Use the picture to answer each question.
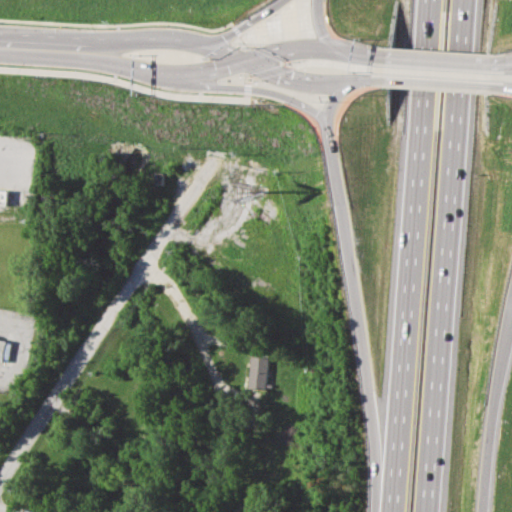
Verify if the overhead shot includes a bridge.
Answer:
Yes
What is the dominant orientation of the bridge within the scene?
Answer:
from side to side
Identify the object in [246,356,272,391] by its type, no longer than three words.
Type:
house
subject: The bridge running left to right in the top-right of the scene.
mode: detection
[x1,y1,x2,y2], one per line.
[385,48,504,96]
